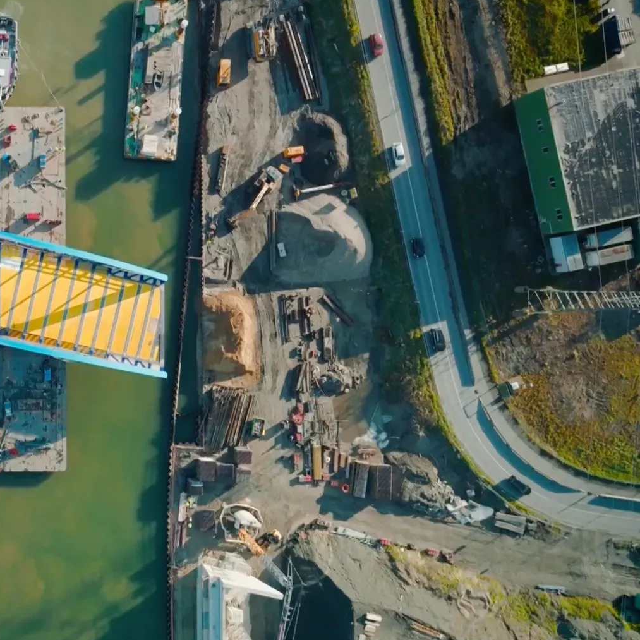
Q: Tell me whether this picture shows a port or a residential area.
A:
port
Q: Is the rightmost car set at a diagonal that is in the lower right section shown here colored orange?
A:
No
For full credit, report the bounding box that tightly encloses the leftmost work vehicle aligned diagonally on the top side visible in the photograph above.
[229,157,290,230]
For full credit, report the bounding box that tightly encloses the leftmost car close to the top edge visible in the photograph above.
[366,32,382,60]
